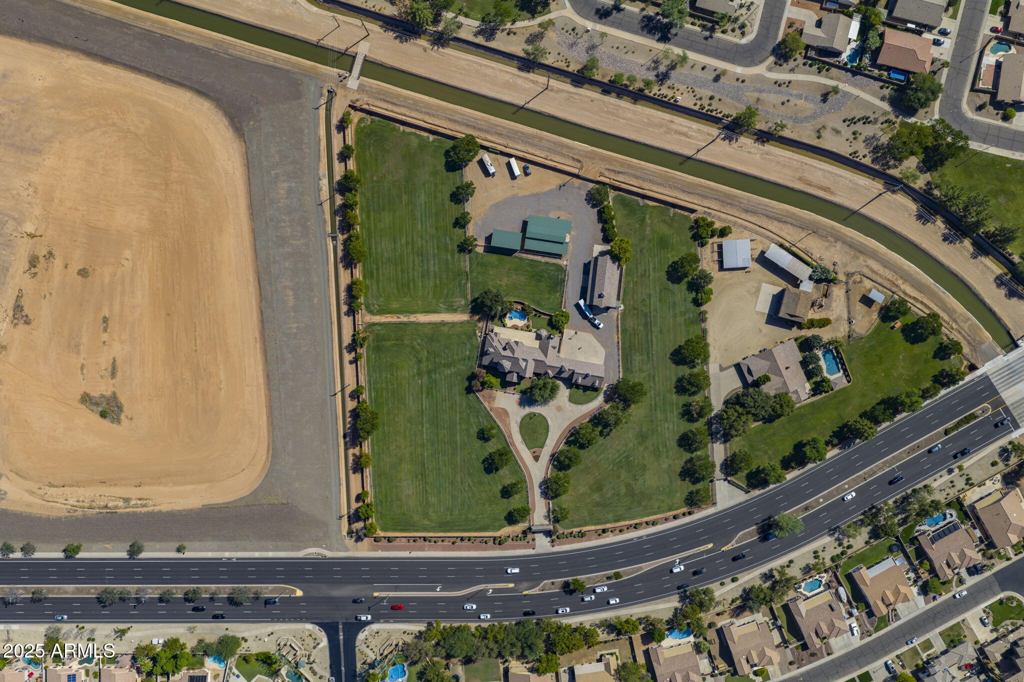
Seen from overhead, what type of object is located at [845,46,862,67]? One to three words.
swimming pool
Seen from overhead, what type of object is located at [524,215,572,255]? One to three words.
barn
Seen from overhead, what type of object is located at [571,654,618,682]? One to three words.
house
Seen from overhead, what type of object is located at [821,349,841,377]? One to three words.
swimming pool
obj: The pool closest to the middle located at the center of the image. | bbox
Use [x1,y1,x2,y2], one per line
[507,309,527,322]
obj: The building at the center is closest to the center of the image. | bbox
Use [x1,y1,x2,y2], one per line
[481,329,605,386]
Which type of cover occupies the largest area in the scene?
paved ground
